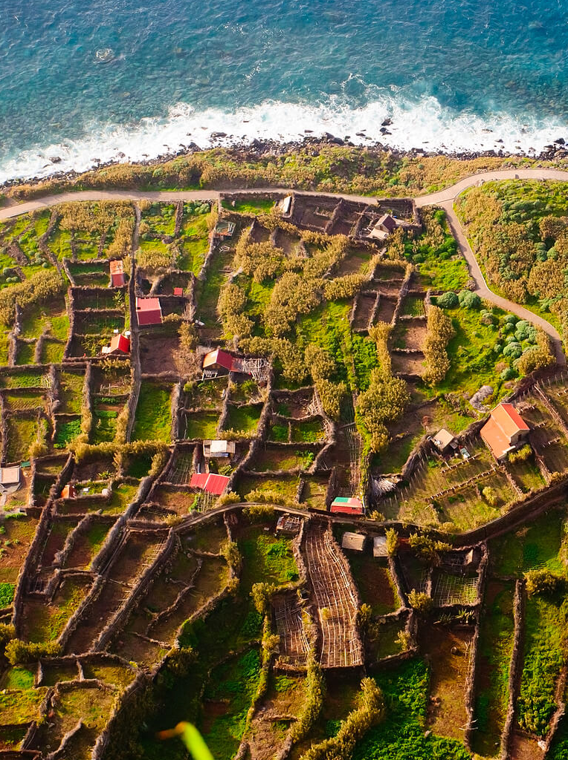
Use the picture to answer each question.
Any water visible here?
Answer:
Yes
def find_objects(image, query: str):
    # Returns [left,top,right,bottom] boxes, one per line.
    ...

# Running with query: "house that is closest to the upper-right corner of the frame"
[367,215,395,245]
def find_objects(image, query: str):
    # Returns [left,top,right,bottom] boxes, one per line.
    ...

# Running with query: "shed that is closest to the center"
[203,350,243,377]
